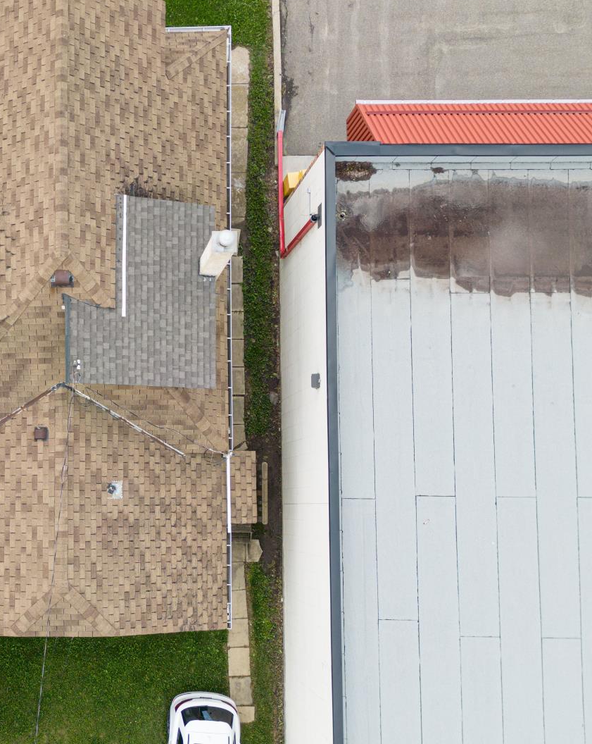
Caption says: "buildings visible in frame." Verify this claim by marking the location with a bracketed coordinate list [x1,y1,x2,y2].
[0,0,237,641]
[272,102,592,744]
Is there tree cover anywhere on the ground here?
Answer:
No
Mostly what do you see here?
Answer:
buildings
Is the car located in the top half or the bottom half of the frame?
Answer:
bottom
